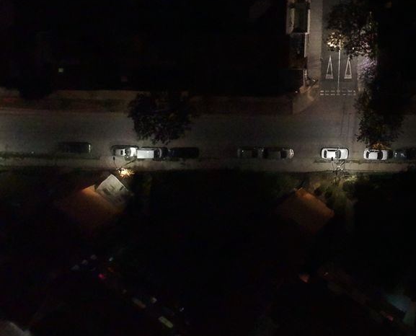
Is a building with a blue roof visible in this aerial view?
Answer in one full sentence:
No, no building with a blue roof is visible in the scene.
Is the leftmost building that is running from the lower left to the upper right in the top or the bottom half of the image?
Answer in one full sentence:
The leftmost building that is running from the lower left to the upper right sits in the bottom half of the picture.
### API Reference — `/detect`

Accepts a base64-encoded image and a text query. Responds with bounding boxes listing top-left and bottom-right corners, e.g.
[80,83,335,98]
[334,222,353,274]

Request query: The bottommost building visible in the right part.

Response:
[204,185,337,336]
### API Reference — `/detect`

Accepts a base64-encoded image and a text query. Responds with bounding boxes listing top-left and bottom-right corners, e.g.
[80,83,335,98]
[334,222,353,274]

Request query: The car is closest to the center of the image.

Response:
[169,148,197,161]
